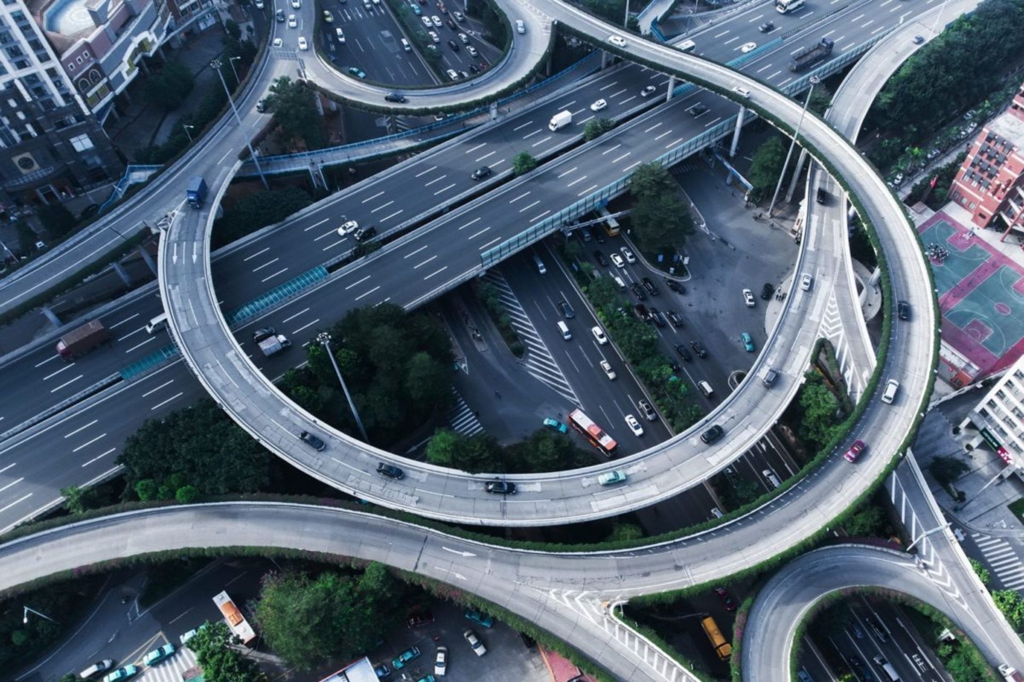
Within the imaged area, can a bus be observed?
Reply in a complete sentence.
Yes, a bus appears in the view.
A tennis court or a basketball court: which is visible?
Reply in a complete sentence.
It is a basketball court that can be seen here.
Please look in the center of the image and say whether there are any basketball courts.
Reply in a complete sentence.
No, no basketball court can be made out in the center of the image.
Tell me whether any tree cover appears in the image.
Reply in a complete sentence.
Yes, some tree cover is visible.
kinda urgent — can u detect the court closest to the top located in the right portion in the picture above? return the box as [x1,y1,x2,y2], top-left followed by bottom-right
[922,220,995,298]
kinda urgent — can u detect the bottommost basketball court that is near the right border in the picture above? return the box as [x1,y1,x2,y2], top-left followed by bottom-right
[943,264,1024,357]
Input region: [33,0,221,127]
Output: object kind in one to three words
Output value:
building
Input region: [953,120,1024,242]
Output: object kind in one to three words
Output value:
building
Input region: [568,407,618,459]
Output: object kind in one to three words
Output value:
bus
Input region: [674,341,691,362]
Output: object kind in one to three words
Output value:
car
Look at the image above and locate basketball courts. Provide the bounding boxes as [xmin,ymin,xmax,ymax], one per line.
[922,220,995,298]
[943,264,1024,357]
